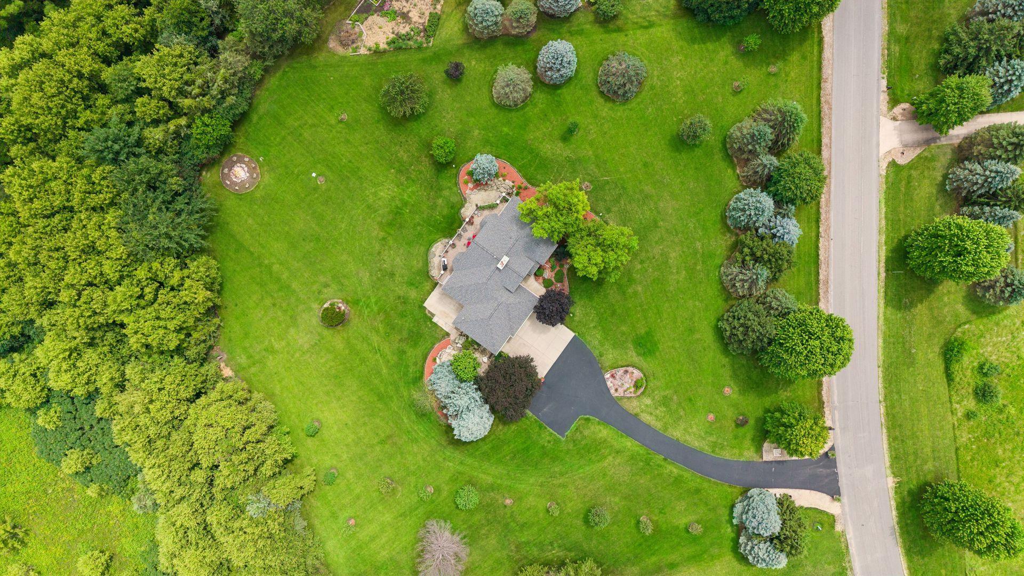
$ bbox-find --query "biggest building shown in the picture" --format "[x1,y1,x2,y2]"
[439,195,558,356]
